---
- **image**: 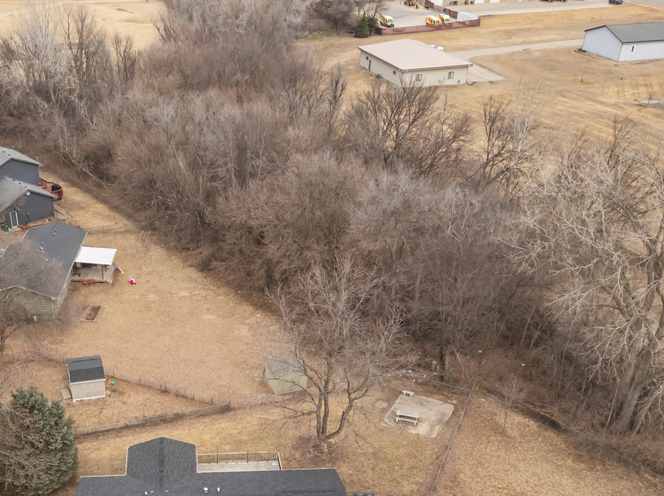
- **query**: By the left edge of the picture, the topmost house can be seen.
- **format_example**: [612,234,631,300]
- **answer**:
[0,147,70,230]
